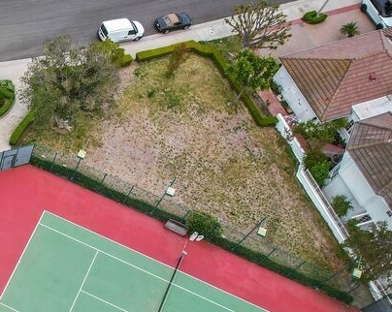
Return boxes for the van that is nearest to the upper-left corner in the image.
[97,13,149,44]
